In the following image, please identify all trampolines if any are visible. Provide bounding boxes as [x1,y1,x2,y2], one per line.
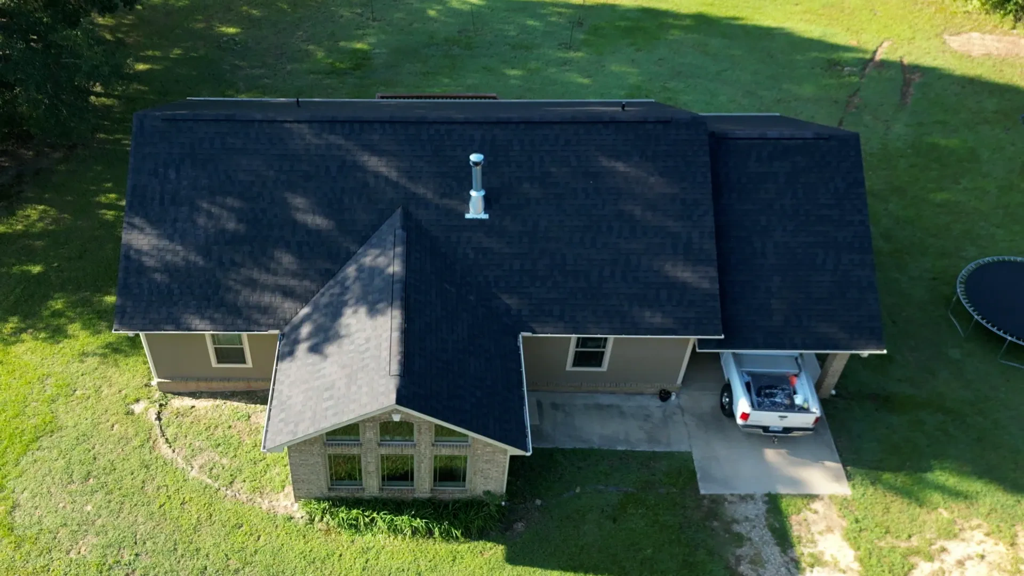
[944,255,1024,373]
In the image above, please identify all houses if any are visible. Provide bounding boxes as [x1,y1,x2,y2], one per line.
[112,96,888,502]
